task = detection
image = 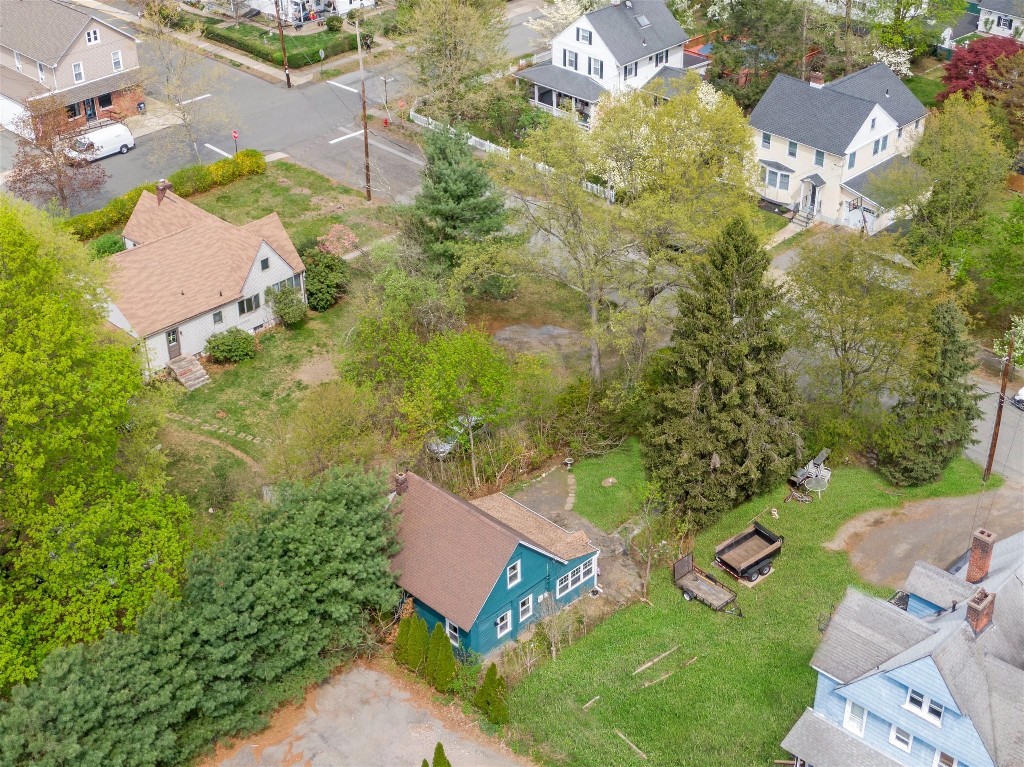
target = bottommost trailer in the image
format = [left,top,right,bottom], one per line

[673,553,749,618]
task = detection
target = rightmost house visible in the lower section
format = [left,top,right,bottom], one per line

[746,508,1024,767]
